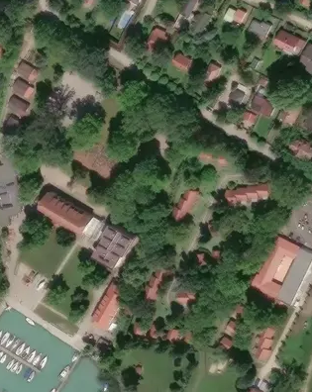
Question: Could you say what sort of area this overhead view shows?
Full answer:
It's a residential area.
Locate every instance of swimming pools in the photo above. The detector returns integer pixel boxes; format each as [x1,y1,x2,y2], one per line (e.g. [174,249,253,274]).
[118,10,135,29]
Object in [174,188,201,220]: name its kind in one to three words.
house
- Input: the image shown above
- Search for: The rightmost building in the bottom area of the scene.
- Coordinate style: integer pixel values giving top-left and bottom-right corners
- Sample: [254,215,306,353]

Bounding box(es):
[277,247,312,306]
